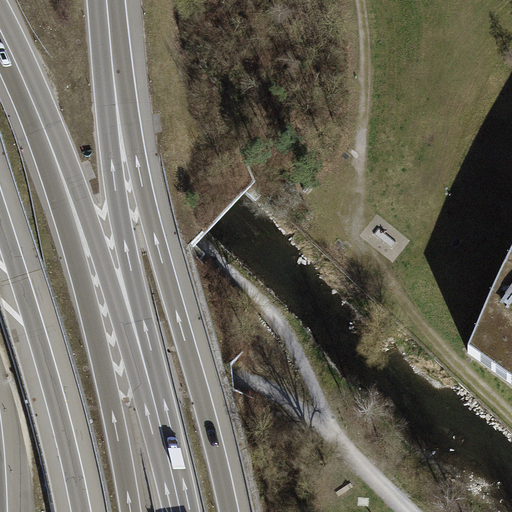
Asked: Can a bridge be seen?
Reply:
No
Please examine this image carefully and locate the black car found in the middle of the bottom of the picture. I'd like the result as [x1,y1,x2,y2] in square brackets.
[205,420,220,448]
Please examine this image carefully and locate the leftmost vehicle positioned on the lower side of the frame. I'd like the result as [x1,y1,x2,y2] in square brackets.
[166,440,184,474]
